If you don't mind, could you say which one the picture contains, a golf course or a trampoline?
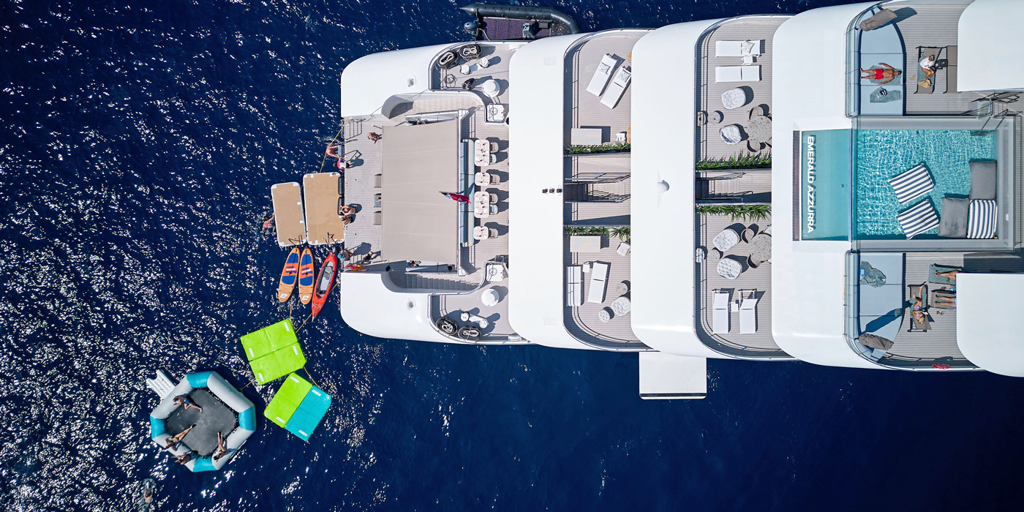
trampoline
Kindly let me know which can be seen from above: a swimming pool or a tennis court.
swimming pool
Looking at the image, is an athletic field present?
No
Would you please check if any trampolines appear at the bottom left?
Yes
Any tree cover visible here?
No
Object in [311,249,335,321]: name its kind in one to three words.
boat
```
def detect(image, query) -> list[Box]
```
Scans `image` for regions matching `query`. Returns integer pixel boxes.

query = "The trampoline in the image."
[141,364,258,471]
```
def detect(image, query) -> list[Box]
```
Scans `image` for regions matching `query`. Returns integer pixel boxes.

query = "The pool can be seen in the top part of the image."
[792,98,1022,252]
